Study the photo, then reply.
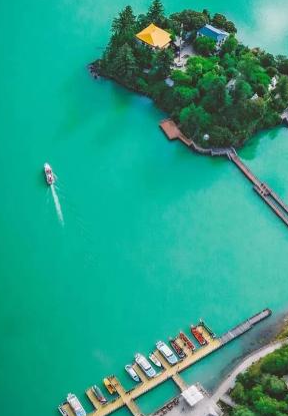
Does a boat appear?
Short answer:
Yes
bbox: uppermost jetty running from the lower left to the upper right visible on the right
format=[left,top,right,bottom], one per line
[218,310,272,348]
